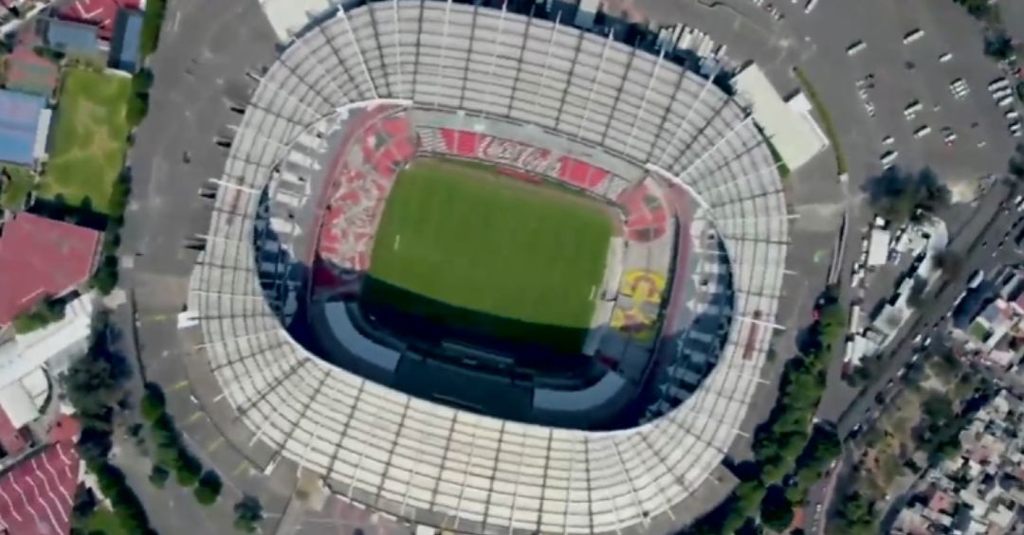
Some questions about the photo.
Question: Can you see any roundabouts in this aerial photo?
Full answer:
No, this view has no roundabout in it.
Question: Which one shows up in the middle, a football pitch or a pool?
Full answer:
The feature located in the middle is a football pitch.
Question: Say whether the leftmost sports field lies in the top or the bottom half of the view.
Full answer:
The leftmost sports field sits in the top half of the picture.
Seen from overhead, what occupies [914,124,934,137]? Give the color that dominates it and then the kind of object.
white vehicle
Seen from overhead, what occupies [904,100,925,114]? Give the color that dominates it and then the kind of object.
white vehicle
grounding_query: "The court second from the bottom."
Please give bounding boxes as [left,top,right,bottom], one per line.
[0,91,46,130]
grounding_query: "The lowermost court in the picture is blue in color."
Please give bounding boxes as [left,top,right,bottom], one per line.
[0,126,37,165]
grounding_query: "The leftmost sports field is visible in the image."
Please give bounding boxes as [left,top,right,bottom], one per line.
[38,70,132,210]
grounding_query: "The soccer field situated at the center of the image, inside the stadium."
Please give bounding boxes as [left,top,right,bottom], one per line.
[364,159,623,357]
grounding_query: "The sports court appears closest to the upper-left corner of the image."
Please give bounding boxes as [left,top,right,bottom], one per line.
[7,45,57,95]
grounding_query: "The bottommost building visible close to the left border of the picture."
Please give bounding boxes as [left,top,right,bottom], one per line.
[0,438,88,535]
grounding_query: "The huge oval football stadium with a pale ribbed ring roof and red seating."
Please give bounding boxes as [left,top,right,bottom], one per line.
[175,0,801,535]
